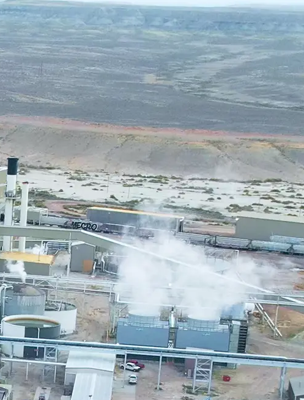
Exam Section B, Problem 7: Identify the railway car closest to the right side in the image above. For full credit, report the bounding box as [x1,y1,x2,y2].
[267,242,304,258]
